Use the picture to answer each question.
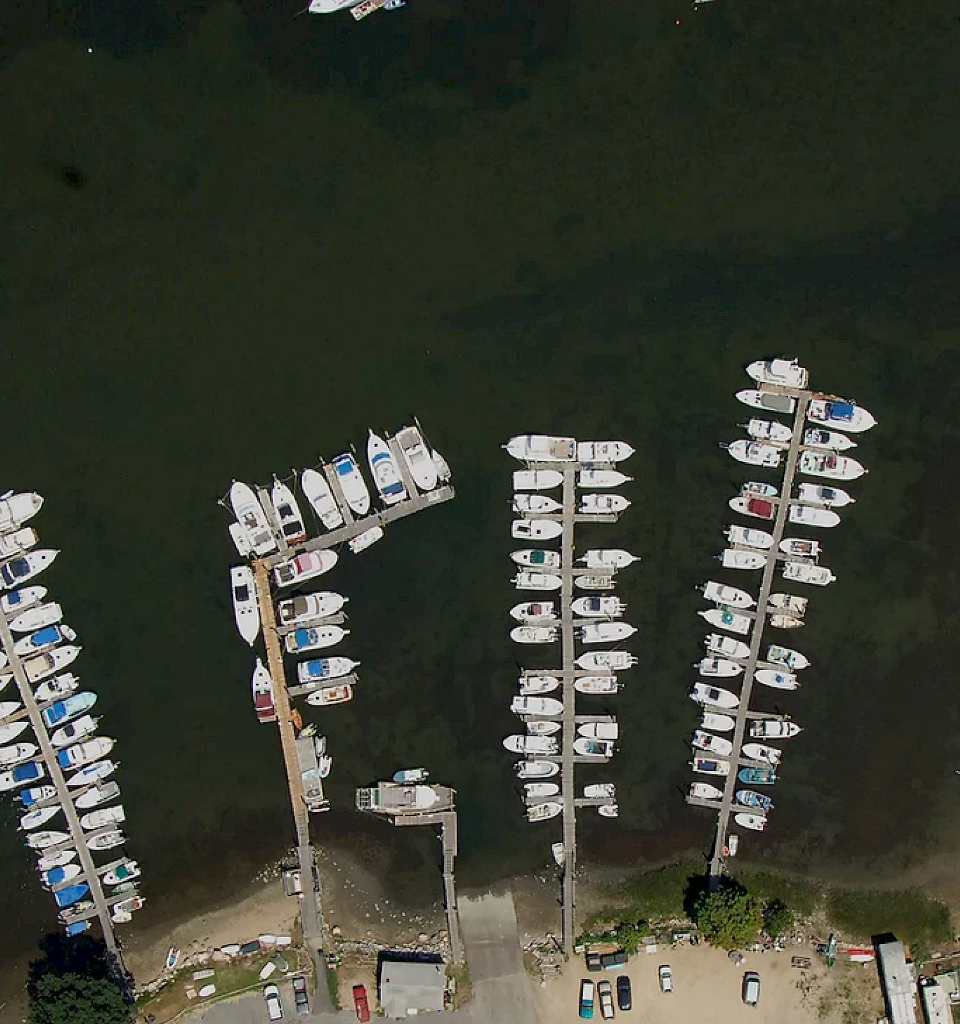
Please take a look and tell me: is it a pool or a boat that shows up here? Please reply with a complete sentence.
Looking from above, you can make out a boat.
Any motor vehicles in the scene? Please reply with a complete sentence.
Yes, looking at the shot, I can spot a motor vehicle.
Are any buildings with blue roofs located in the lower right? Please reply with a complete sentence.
No, no building with a blue roof is visible in the lower right.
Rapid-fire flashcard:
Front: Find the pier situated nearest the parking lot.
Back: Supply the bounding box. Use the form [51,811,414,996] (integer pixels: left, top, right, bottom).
[520,462,621,958]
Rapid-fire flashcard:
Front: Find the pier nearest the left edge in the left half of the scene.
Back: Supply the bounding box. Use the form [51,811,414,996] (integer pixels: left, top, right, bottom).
[0,552,141,989]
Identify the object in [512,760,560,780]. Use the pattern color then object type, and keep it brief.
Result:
white boat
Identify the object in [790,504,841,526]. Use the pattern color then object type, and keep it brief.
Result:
white boat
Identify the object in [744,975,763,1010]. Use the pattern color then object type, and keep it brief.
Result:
white vehicle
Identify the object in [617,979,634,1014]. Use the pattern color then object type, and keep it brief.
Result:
black car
